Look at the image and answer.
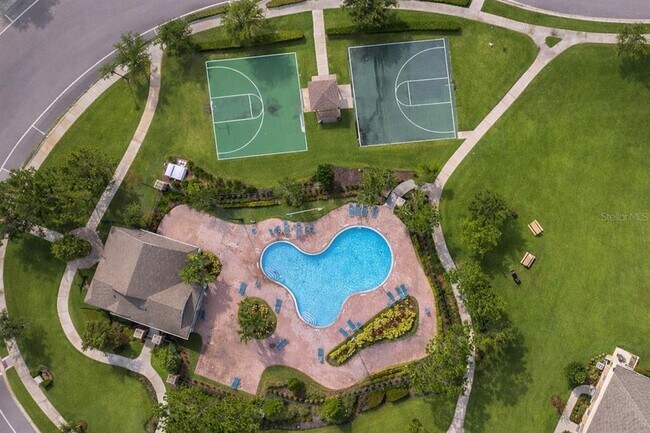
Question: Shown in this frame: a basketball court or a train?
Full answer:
There is a basketball court in the scene.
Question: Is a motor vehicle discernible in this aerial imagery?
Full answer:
No, the frame has no motor vehicle in it.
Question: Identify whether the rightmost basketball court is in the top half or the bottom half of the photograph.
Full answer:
It is in the top half that the rightmost basketball court appears.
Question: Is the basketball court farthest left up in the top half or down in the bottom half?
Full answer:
It is in the top half that the basketball court farthest left appears.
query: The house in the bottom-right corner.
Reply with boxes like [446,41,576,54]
[574,348,650,433]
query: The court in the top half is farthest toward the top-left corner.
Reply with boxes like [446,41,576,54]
[206,53,308,160]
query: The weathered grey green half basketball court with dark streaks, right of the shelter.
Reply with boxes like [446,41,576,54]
[348,38,460,147]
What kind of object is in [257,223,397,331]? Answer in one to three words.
swimming pool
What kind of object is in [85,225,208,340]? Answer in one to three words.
building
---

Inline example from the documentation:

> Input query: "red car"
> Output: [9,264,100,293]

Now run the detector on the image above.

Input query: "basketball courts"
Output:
[206,53,308,160]
[348,38,460,147]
